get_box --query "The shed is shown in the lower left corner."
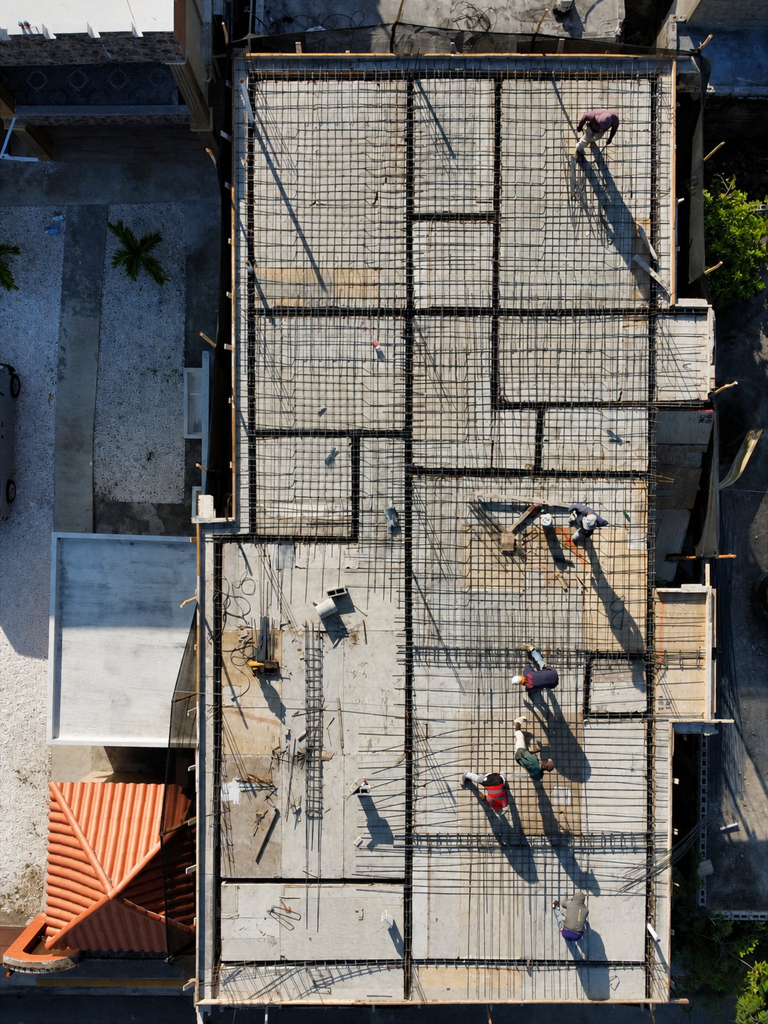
[44,768,167,958]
